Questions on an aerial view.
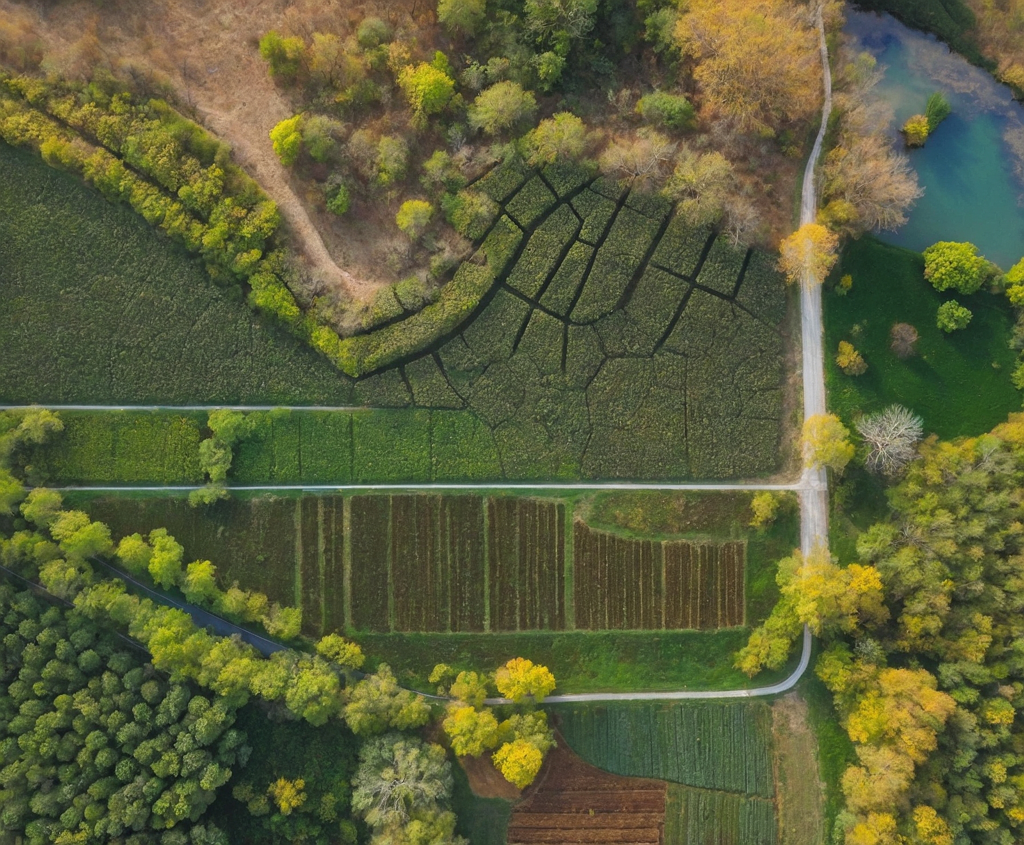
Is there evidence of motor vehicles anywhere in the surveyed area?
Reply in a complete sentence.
No, the picture doesn't show any motor vehicle.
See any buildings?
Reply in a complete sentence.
No, there appears to be no building in this shot.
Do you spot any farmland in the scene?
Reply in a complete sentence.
Yes, some farmland is visible.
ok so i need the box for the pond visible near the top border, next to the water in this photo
[843,9,1024,266]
